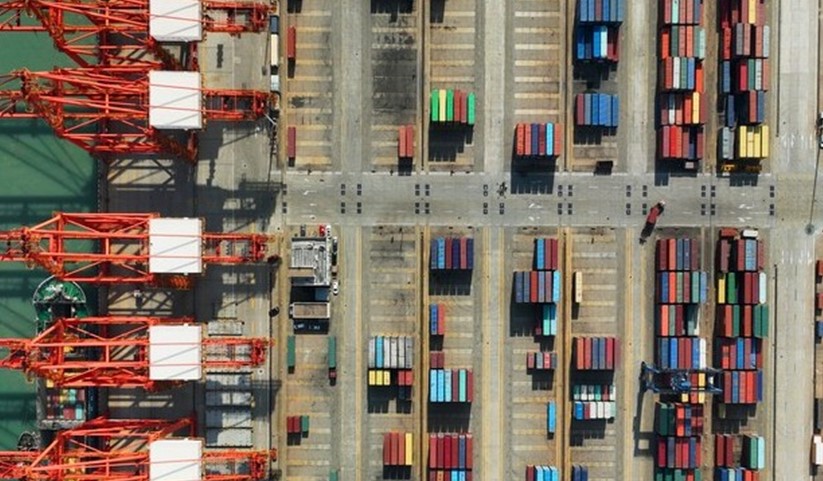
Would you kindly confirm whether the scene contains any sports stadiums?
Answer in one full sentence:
No, this view has no sports stadium in it.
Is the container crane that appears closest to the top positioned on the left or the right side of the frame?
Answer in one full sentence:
The container crane that appears closest to the top appears in the left half of the scene.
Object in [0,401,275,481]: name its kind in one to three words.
container crane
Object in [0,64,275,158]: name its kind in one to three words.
container crane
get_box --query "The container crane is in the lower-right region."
[644,358,728,395]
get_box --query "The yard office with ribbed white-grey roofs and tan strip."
[289,238,330,286]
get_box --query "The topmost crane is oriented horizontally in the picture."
[0,0,275,76]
